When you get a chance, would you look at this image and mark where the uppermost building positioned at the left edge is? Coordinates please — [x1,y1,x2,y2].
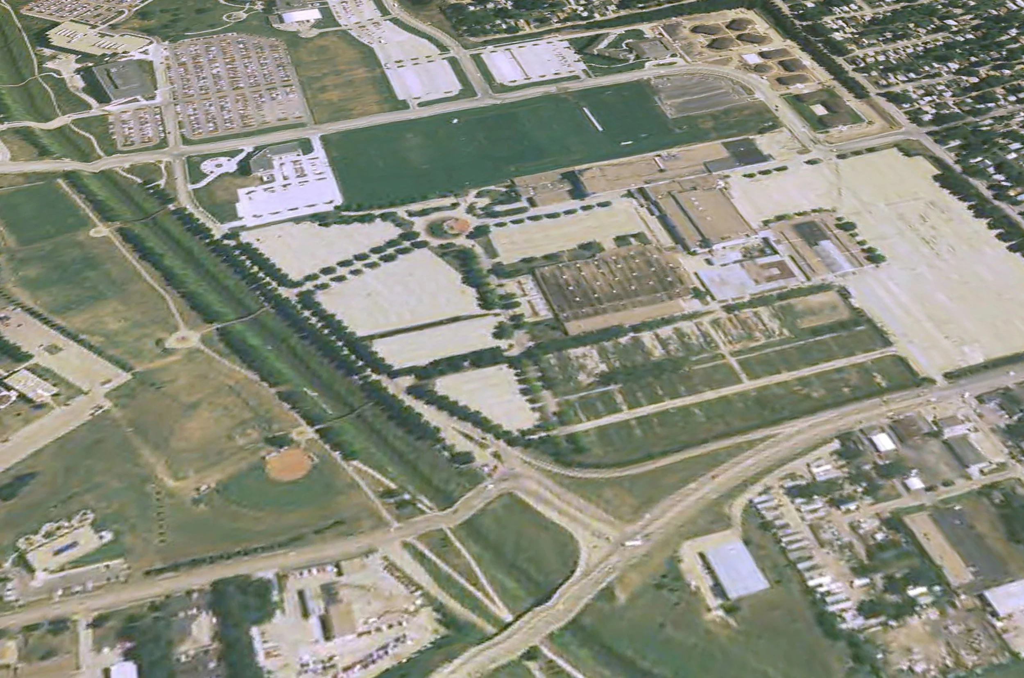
[45,19,151,57]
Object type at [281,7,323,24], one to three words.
hangar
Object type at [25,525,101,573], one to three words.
building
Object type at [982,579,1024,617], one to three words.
shed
